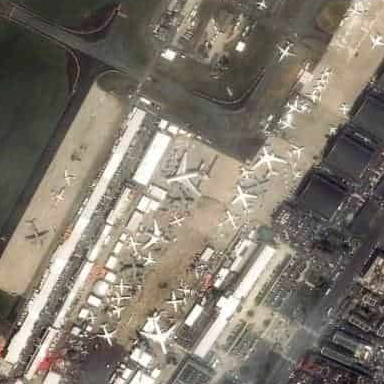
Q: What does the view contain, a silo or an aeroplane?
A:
aeroplane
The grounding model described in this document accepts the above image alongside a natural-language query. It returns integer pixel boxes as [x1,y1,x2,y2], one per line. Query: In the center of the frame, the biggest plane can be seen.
[167,152,214,195]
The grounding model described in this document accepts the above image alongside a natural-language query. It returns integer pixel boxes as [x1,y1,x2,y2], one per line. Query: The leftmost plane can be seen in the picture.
[26,218,49,246]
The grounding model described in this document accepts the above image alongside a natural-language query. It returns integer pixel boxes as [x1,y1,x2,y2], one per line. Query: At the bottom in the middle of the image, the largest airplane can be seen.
[135,310,178,355]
